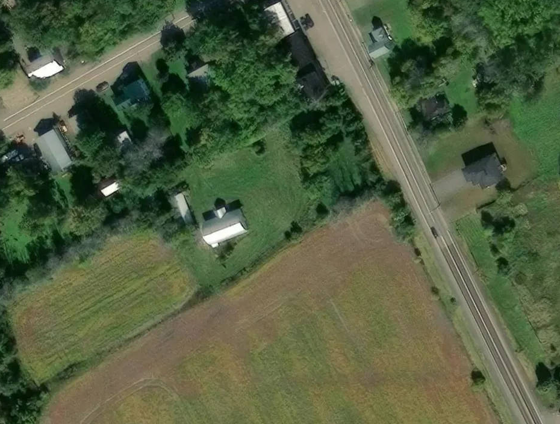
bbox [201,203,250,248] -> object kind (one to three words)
barn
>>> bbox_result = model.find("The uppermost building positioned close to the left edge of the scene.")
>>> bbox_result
[26,50,67,81]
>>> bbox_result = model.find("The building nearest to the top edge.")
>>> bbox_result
[268,0,298,36]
